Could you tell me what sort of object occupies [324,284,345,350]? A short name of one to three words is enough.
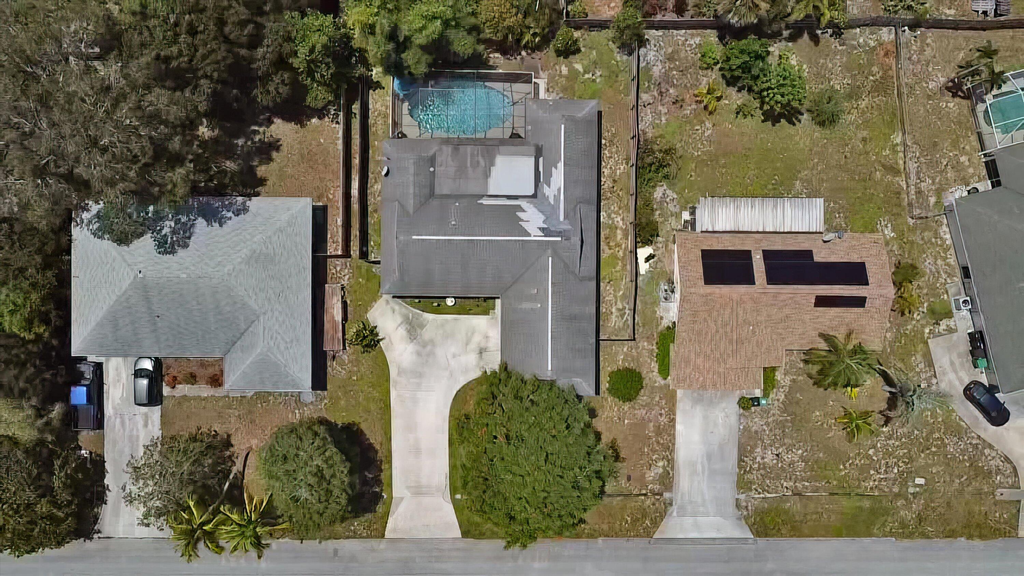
shed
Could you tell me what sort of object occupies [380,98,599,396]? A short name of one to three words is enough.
house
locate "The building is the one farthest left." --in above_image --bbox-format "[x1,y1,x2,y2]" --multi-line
[71,197,313,393]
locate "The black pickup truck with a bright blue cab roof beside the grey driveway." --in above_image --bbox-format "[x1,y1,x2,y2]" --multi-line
[67,360,103,432]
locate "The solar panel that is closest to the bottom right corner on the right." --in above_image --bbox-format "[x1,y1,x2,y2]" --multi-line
[814,296,867,308]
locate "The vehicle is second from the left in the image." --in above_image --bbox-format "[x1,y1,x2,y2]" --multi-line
[130,358,161,409]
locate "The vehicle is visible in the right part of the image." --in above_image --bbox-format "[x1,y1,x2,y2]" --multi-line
[963,377,1012,431]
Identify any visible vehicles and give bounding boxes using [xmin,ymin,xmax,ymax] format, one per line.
[130,358,161,409]
[963,377,1012,431]
[67,360,103,432]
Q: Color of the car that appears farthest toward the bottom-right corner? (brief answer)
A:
black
